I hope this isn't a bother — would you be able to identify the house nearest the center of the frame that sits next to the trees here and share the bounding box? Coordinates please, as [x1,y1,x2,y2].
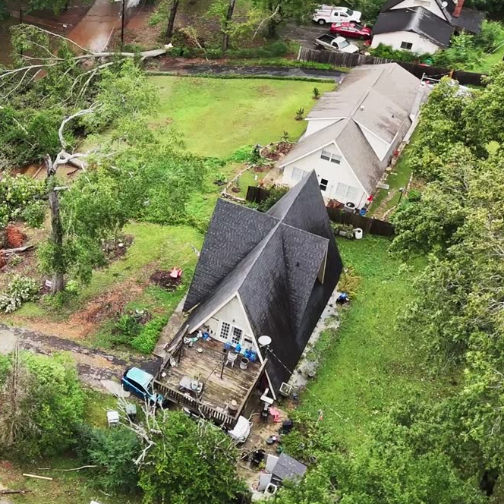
[179,167,345,396]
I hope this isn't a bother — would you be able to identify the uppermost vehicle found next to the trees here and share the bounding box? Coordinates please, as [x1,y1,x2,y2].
[312,0,365,26]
